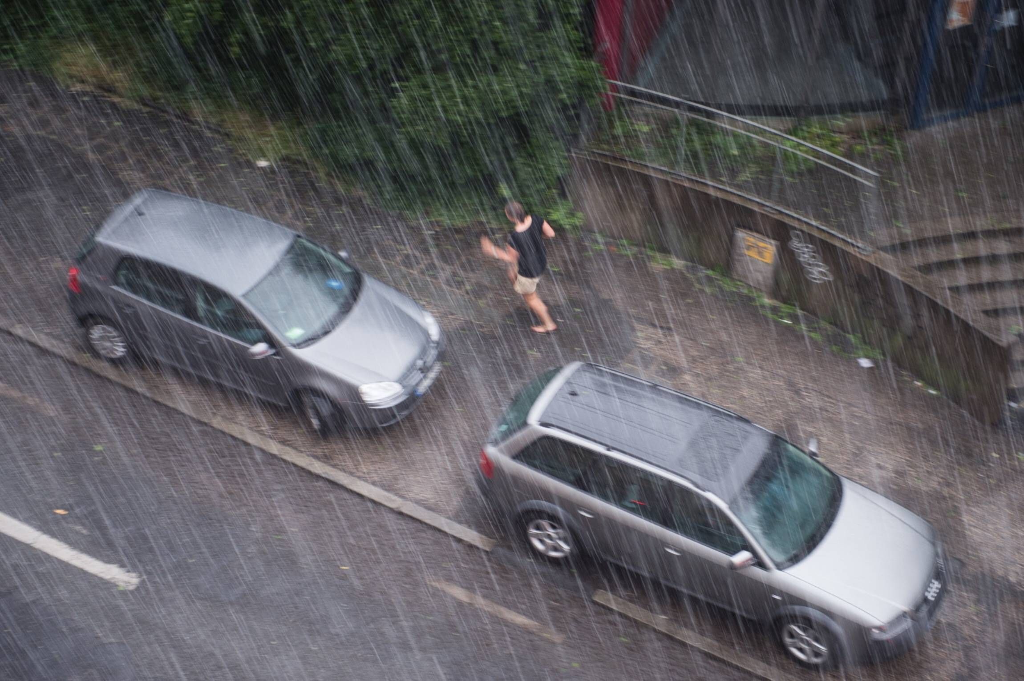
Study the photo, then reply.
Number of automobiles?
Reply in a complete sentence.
My tally gives 2 automobiles in this view.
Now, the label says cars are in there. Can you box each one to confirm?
[487,362,949,667]
[72,186,442,440]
